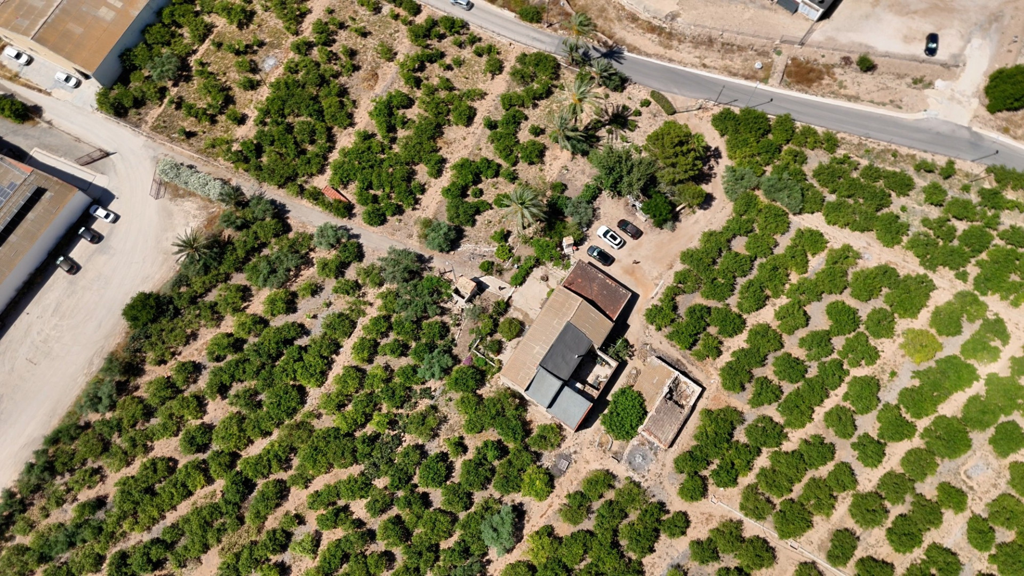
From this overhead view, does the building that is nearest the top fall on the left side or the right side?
right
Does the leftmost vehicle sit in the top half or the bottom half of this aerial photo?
top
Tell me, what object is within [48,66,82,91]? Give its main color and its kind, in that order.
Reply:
white vehicle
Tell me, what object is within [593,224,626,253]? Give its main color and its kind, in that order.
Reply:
white car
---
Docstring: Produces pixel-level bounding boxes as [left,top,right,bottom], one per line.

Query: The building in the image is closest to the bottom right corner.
[631,355,703,450]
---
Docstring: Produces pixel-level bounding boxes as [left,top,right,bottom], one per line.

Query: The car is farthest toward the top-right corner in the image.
[922,31,940,59]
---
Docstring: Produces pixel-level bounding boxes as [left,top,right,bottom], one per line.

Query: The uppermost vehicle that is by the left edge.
[0,41,33,67]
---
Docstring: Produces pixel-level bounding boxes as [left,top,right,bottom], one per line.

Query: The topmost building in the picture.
[791,0,832,32]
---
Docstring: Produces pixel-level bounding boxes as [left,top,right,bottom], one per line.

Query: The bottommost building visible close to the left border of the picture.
[0,152,93,313]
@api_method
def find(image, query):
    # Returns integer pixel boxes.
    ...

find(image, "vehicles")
[448,0,475,14]
[0,41,33,67]
[922,31,940,59]
[86,204,120,227]
[52,253,82,278]
[48,66,82,91]
[593,224,626,253]
[614,218,646,243]
[584,243,617,269]
[75,225,104,248]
